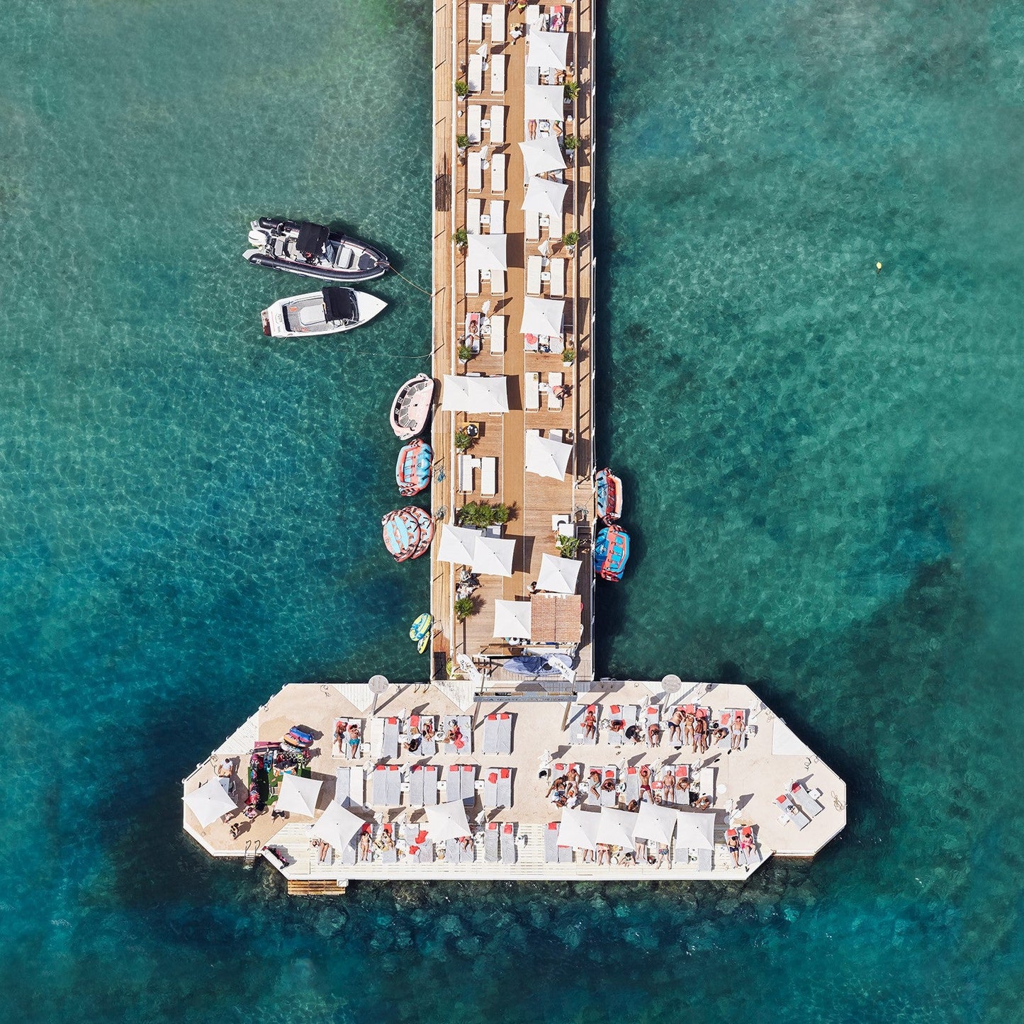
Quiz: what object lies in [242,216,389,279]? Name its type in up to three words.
boat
